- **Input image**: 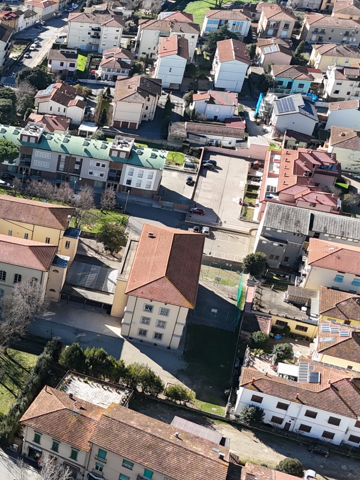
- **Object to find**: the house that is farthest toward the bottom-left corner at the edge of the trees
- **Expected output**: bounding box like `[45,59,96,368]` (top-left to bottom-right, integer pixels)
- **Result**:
[22,369,120,475]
